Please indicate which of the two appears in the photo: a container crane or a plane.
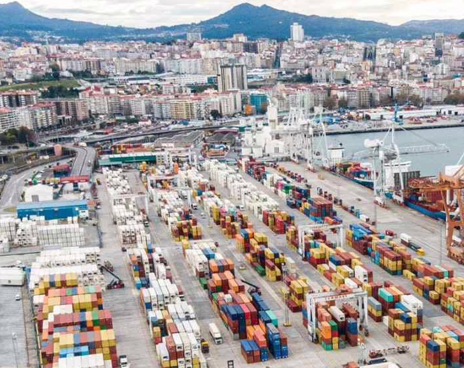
container crane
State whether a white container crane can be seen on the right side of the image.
Yes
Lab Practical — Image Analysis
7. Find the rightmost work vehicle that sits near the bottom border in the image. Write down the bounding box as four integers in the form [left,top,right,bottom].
[364,343,407,362]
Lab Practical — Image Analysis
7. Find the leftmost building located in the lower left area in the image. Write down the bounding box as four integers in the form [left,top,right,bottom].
[0,268,26,284]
